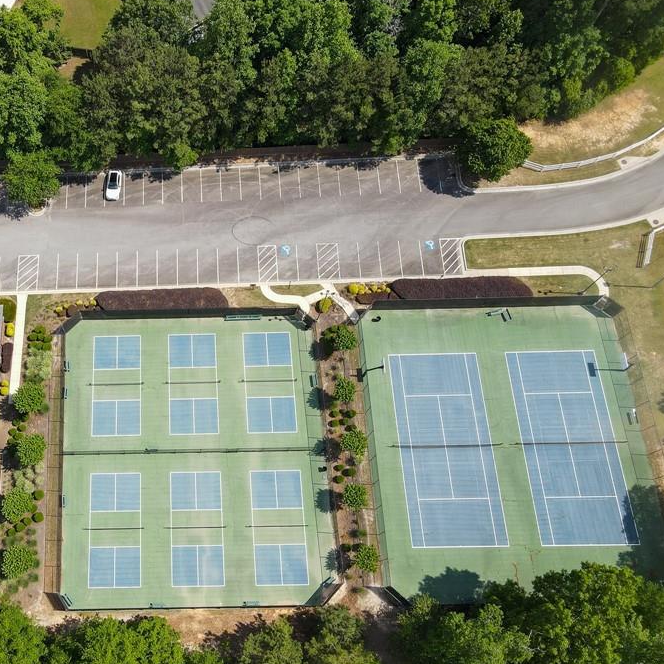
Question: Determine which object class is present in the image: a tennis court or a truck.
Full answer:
Looking from above, you can make out a tennis court.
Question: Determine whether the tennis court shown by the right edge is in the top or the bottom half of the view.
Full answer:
It is in the bottom half that the tennis court shown by the right edge appears.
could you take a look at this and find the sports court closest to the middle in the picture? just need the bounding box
[242,332,298,434]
